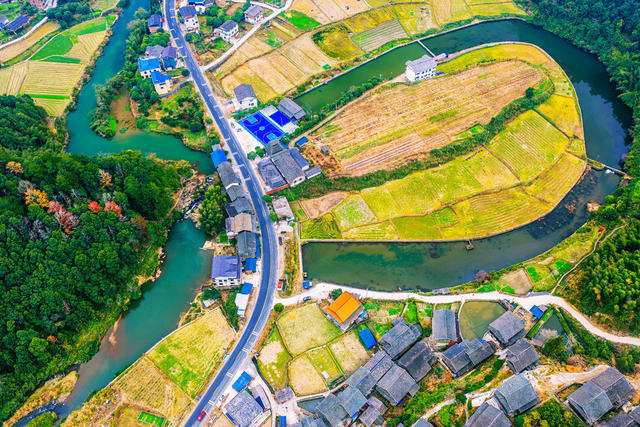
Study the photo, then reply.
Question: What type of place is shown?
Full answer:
It's a residential area.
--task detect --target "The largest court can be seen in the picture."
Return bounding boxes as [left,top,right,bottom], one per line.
[238,111,286,145]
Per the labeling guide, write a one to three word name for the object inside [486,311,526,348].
house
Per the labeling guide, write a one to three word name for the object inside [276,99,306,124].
shed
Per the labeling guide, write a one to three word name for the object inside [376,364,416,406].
house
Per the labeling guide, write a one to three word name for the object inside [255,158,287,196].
building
